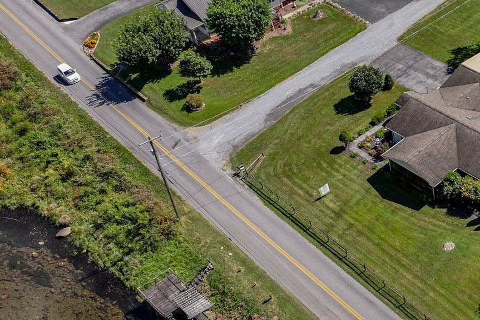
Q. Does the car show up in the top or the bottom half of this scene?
top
